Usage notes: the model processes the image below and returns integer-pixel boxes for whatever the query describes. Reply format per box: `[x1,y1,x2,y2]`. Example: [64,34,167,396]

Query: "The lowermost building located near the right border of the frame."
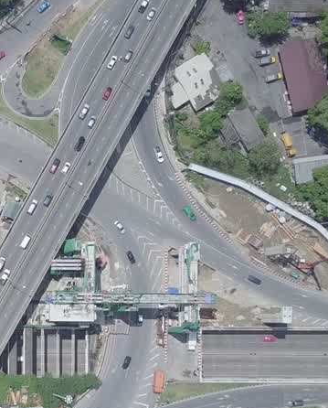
[289,155,328,184]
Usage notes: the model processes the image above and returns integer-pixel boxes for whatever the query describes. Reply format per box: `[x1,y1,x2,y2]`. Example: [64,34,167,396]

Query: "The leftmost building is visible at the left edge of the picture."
[0,198,22,219]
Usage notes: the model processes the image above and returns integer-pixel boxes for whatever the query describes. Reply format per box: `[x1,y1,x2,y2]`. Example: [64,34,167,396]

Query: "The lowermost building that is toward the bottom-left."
[42,302,96,321]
